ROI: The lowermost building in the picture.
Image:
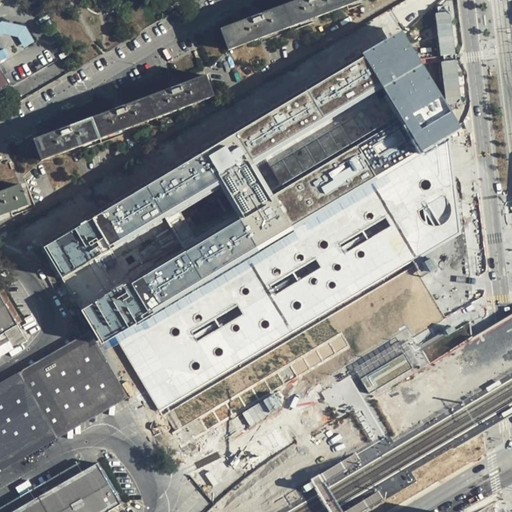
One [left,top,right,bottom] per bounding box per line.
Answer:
[0,462,118,512]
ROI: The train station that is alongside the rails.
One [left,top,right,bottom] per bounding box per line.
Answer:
[266,367,512,512]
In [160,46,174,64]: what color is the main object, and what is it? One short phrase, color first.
white vehicle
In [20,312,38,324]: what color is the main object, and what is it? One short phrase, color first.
white vehicle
